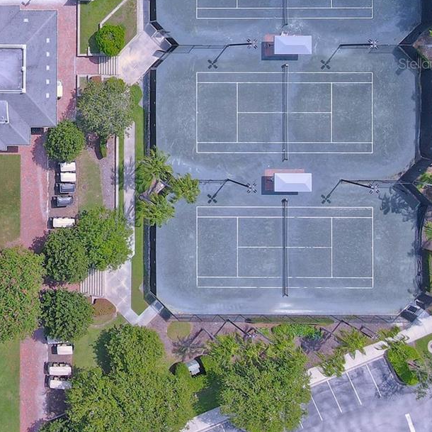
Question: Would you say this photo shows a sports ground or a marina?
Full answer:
The picture captures a sports ground.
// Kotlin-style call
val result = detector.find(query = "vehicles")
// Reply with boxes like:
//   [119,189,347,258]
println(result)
[47,360,71,374]
[54,340,73,353]
[56,82,63,99]
[56,161,75,172]
[56,171,75,182]
[47,373,71,389]
[42,329,61,342]
[53,193,73,205]
[55,182,75,193]
[52,215,75,226]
